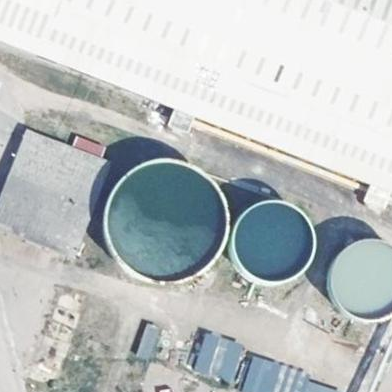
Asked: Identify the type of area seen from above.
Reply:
industrial area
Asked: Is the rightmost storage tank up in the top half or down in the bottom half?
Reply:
bottom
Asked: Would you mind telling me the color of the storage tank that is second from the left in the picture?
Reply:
blue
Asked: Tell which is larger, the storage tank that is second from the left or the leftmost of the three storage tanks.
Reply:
the leftmost of the three storage tanks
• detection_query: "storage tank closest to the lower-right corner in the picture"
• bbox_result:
[323,238,392,322]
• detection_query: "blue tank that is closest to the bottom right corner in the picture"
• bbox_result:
[228,200,316,285]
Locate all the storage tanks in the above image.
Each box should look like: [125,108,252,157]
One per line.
[323,238,392,322]
[101,158,230,286]
[228,200,316,285]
